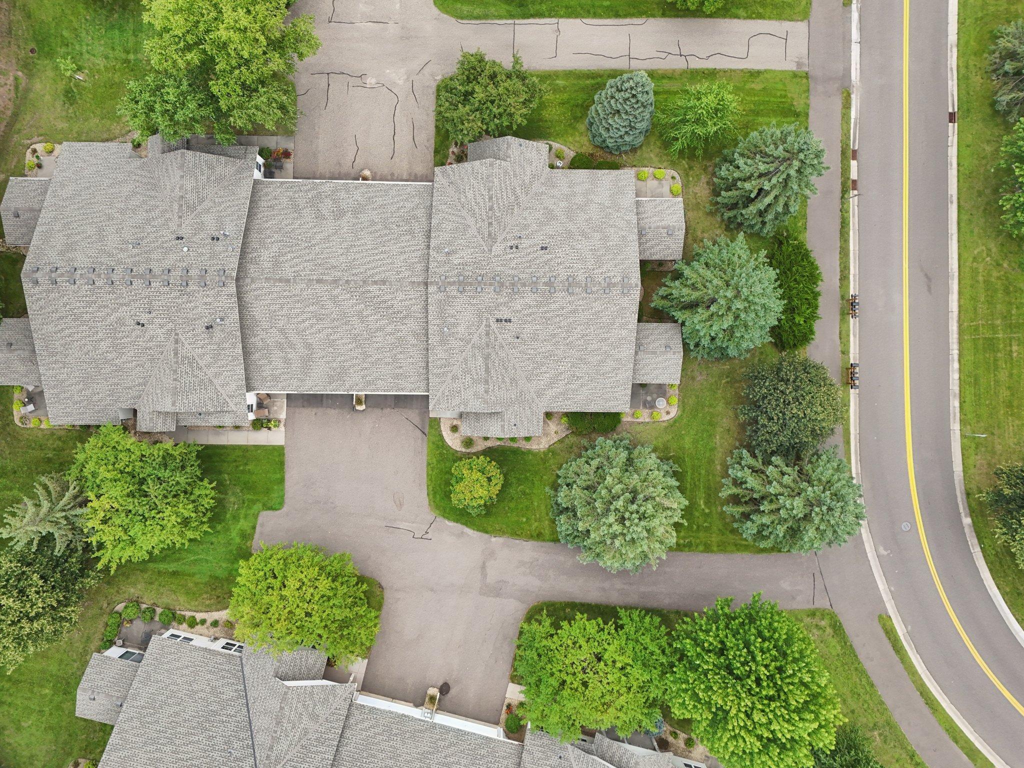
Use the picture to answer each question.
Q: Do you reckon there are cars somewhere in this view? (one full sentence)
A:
No, this view has no car in it.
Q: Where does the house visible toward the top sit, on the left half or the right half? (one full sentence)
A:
You can find the house visible toward the top on the left side of the picture.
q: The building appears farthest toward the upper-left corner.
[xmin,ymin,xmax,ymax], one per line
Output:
[0,135,685,438]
